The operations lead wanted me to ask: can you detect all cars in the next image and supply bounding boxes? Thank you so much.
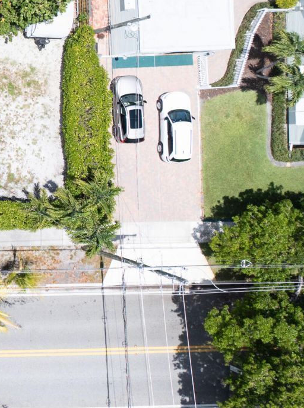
[109,74,146,143]
[155,92,194,161]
